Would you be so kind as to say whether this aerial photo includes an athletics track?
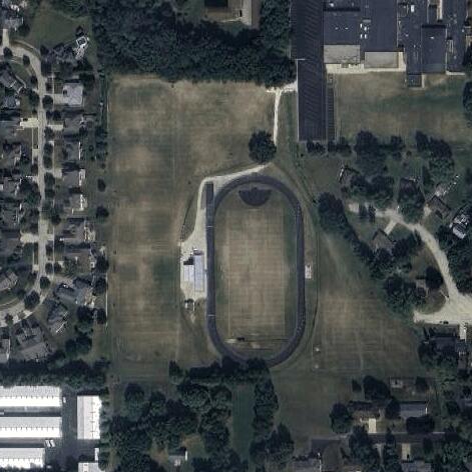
Yes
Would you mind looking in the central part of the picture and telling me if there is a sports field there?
Yes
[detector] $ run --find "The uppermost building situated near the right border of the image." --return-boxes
[324,0,467,86]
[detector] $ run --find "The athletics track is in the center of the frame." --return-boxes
[206,174,305,365]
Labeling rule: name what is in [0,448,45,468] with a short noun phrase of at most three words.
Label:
shed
